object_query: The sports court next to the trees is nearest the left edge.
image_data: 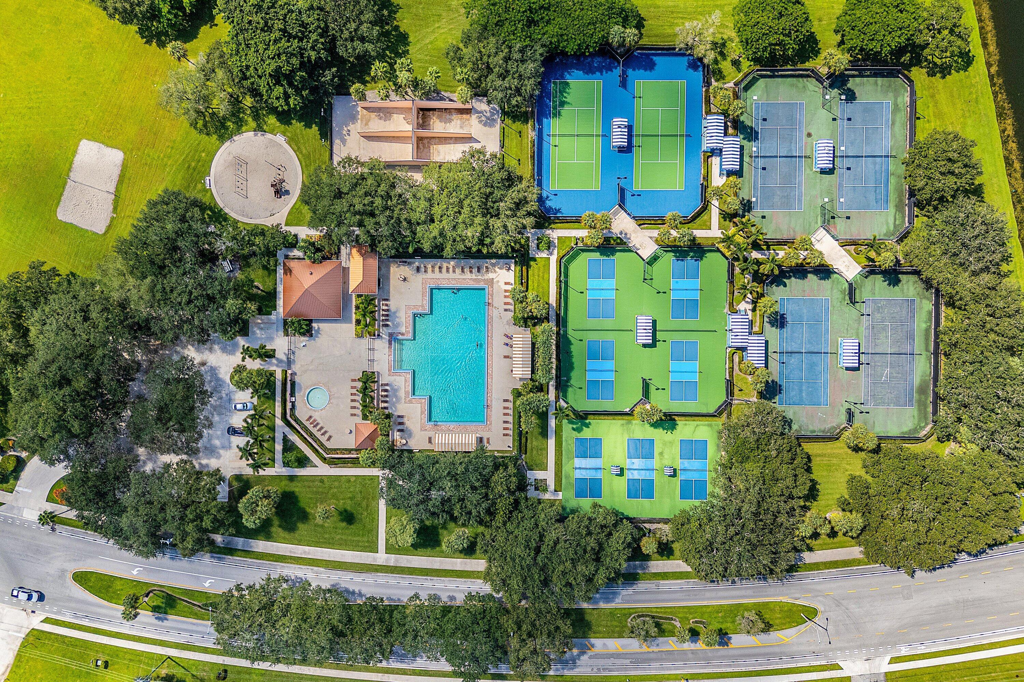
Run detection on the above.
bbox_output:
[57,139,124,234]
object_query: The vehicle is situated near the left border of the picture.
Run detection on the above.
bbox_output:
[9,588,39,602]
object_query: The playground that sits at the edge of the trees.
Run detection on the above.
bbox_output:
[210,131,302,223]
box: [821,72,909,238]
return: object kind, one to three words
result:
tennis court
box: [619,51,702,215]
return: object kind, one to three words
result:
tennis court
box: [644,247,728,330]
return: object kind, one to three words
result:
sports court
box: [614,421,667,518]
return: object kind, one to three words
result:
sports court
